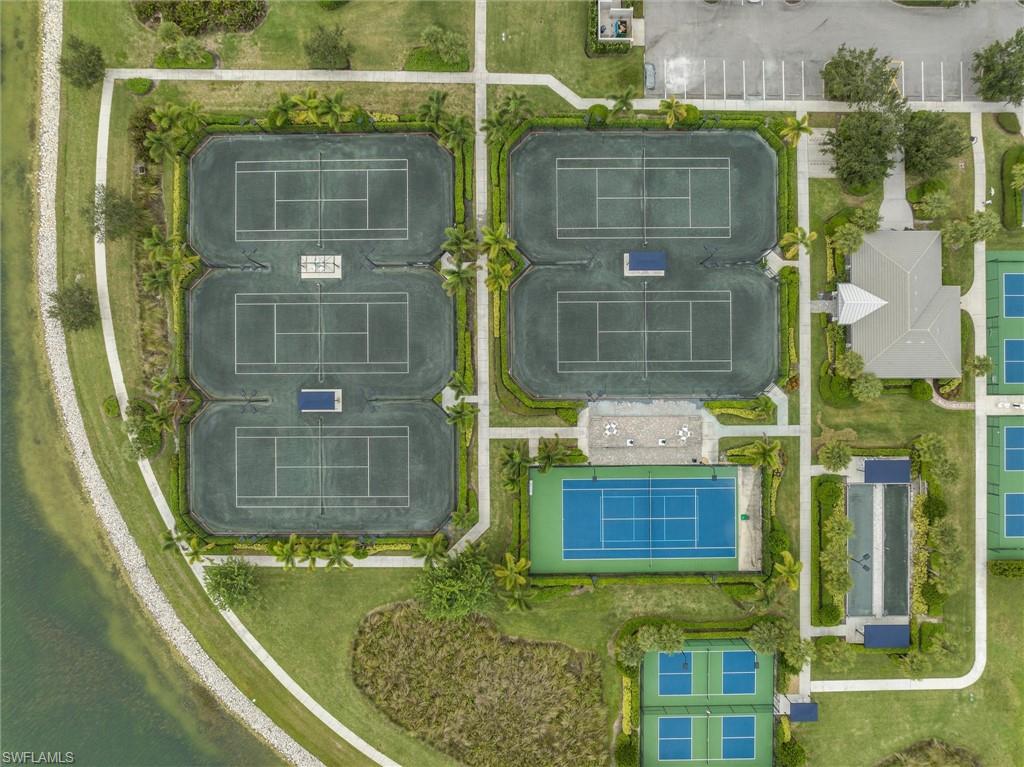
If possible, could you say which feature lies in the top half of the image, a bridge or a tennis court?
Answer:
tennis court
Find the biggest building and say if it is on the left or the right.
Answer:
right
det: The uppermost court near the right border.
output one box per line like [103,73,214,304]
[986,251,1024,328]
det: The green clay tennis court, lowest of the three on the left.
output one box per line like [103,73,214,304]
[191,400,454,535]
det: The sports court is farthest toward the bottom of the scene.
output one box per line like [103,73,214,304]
[641,706,774,767]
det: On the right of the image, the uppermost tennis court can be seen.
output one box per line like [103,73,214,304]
[511,132,776,265]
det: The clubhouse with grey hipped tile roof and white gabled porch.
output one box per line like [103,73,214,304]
[831,231,962,379]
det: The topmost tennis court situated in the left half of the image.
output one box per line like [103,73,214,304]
[190,135,452,267]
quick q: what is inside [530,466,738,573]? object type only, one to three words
tennis court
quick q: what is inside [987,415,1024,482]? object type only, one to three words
sports court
